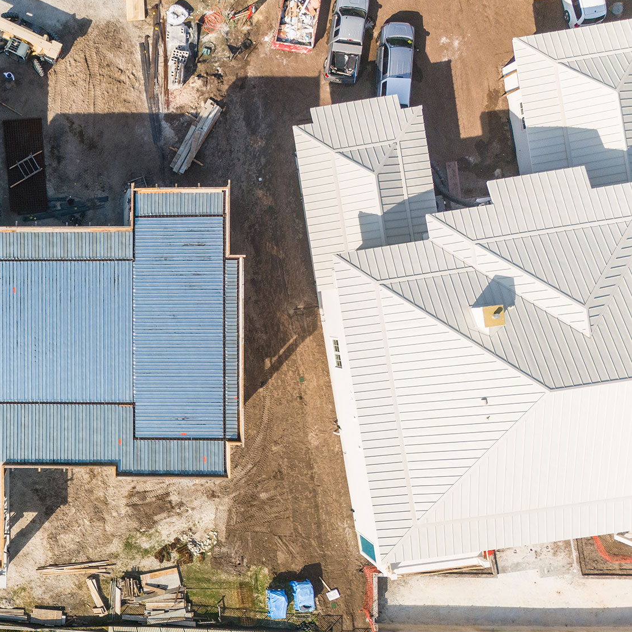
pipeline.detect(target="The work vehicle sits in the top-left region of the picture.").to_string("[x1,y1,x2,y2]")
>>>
[0,3,67,78]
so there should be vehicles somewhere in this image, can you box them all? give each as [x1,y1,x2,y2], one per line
[0,3,67,78]
[373,24,419,108]
[558,0,610,29]
[321,0,375,90]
